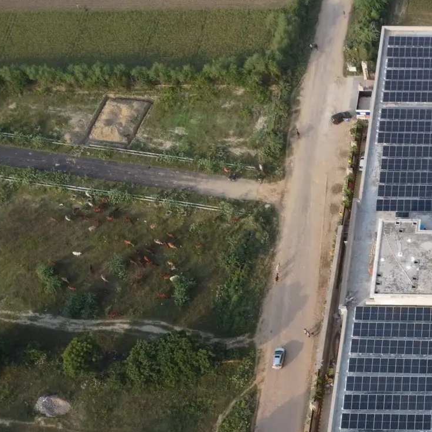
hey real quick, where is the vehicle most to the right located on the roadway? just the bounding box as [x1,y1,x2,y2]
[332,107,353,123]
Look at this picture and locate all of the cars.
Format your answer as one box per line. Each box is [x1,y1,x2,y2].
[332,107,353,123]
[273,346,286,370]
